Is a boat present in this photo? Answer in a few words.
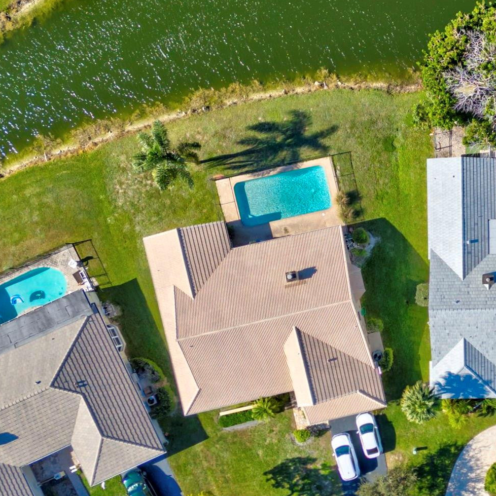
No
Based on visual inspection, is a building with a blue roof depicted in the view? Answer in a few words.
No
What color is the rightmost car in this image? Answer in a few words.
white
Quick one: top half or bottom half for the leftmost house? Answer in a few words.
bottom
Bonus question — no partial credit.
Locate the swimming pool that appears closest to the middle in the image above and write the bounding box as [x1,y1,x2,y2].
[231,161,335,230]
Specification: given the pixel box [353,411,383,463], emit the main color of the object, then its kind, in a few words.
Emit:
white car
